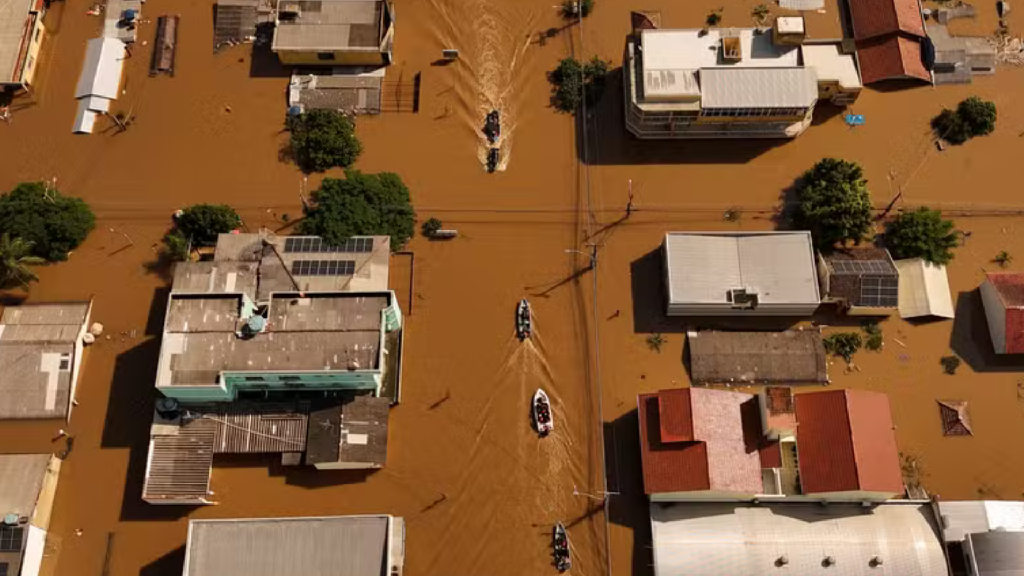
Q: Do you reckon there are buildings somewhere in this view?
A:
Yes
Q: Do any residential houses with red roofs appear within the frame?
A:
Yes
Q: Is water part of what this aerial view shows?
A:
Yes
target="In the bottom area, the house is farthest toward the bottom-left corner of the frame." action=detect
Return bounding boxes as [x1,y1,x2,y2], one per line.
[0,455,62,576]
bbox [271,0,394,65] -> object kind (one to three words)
house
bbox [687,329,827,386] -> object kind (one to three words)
shed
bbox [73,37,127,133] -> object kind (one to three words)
shed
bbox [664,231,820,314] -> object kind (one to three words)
building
